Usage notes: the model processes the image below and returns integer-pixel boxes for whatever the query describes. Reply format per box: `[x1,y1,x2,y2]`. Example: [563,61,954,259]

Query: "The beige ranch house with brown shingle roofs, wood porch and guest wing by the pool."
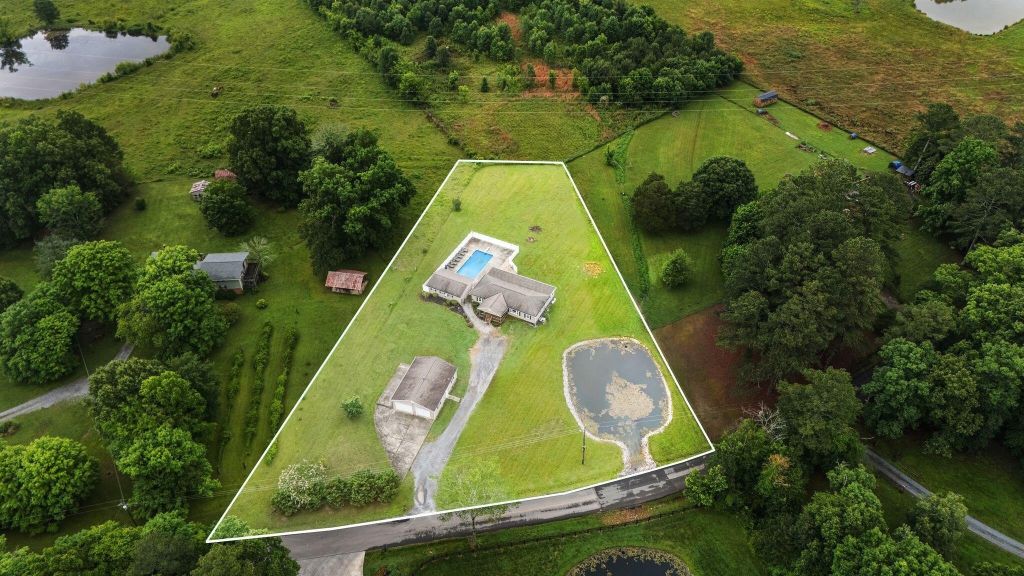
[425,267,557,327]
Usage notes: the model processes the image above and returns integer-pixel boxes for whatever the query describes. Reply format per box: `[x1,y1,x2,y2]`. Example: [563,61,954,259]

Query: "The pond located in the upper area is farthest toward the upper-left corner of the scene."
[0,27,169,98]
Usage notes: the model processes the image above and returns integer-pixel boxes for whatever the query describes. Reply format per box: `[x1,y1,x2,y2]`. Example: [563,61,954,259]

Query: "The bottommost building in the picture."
[390,356,458,419]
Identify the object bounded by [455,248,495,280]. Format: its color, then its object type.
blue swimming pool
